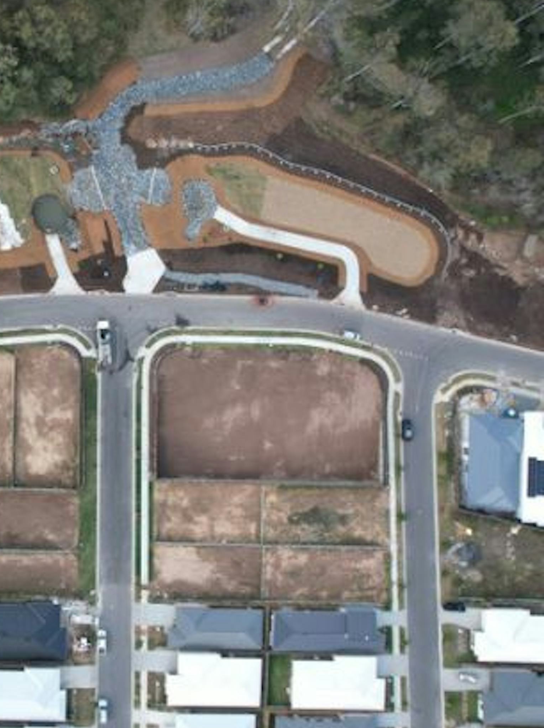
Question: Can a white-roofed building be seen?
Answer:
Yes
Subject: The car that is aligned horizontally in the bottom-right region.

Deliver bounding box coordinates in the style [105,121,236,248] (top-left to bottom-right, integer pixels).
[444,602,471,615]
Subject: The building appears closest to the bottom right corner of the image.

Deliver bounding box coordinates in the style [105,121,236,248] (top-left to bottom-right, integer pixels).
[476,669,544,727]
